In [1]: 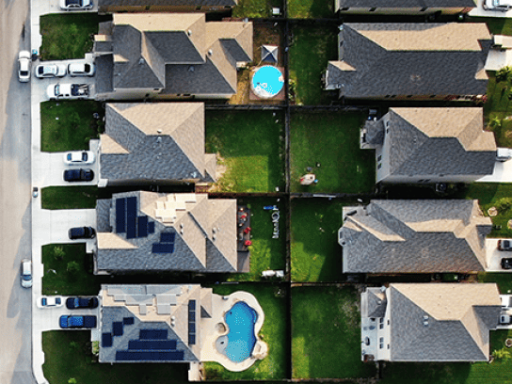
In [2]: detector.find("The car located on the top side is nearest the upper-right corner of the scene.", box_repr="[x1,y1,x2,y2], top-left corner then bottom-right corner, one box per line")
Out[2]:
[481,0,512,13]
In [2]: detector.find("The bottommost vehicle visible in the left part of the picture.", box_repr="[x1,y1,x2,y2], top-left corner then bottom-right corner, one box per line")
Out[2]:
[59,313,97,329]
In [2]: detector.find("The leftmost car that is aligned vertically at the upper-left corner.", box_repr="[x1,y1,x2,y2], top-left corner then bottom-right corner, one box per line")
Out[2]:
[16,51,31,82]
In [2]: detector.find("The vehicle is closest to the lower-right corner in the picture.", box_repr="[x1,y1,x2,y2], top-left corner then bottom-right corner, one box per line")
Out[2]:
[497,312,512,326]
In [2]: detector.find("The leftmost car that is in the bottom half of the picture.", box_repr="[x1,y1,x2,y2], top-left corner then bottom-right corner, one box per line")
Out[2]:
[19,259,33,287]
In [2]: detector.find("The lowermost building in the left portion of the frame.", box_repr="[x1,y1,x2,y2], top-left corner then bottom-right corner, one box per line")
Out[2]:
[99,284,213,363]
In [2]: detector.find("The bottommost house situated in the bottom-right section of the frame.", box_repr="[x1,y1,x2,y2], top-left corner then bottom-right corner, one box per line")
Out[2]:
[363,283,503,360]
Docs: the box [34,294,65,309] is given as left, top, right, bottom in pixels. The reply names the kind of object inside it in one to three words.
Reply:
car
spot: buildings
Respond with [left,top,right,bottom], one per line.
[363,283,503,360]
[100,101,215,186]
[97,0,235,11]
[339,198,493,273]
[360,106,500,183]
[99,284,213,363]
[325,21,490,99]
[95,12,253,99]
[95,190,237,273]
[332,0,476,13]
